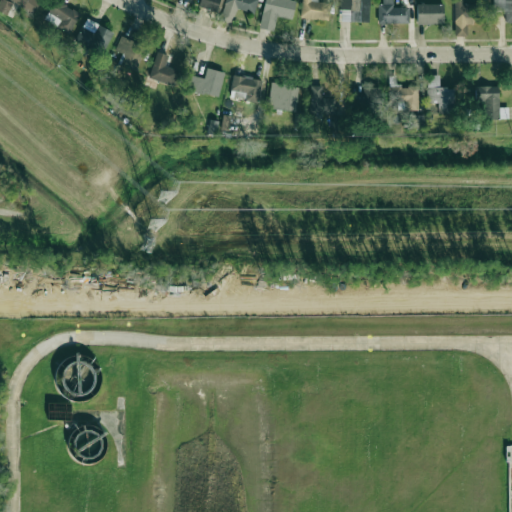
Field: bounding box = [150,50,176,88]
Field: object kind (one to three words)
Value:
house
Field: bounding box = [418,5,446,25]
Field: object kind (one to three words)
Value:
house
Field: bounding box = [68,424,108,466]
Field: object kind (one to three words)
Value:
storage tank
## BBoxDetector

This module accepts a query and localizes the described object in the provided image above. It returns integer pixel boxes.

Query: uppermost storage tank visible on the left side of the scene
[55,352,102,403]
